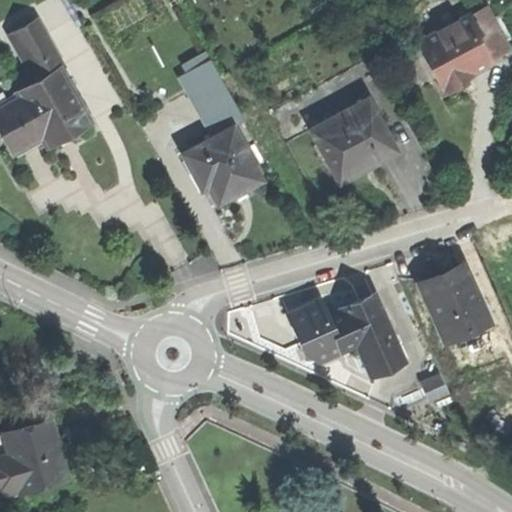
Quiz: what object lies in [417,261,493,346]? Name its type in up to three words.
house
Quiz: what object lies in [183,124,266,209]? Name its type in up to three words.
house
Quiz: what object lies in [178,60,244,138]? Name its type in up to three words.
building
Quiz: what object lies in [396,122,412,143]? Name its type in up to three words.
car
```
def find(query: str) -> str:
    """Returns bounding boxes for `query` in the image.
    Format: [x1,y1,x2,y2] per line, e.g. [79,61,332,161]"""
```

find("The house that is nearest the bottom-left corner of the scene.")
[0,422,72,503]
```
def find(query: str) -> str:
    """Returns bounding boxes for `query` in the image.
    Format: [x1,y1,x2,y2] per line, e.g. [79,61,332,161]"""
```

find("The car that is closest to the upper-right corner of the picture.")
[488,66,502,88]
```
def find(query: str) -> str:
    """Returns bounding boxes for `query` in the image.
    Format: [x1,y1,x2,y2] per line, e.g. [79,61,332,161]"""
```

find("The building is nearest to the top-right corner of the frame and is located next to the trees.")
[422,6,511,96]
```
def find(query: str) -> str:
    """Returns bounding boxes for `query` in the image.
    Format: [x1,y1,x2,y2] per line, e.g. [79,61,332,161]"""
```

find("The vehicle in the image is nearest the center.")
[316,270,336,282]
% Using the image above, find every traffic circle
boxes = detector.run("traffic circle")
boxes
[120,301,226,407]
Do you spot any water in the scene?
No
